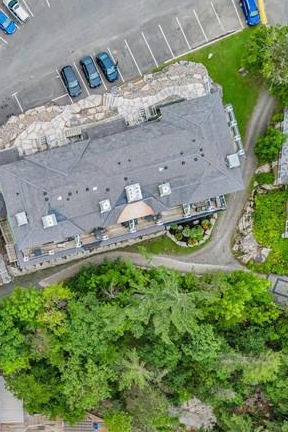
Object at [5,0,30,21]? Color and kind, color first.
white car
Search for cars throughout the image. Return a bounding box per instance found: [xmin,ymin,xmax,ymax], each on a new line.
[81,54,103,87]
[0,6,18,33]
[242,0,261,22]
[5,0,30,21]
[97,49,120,82]
[61,62,84,96]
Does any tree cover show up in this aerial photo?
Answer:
Yes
